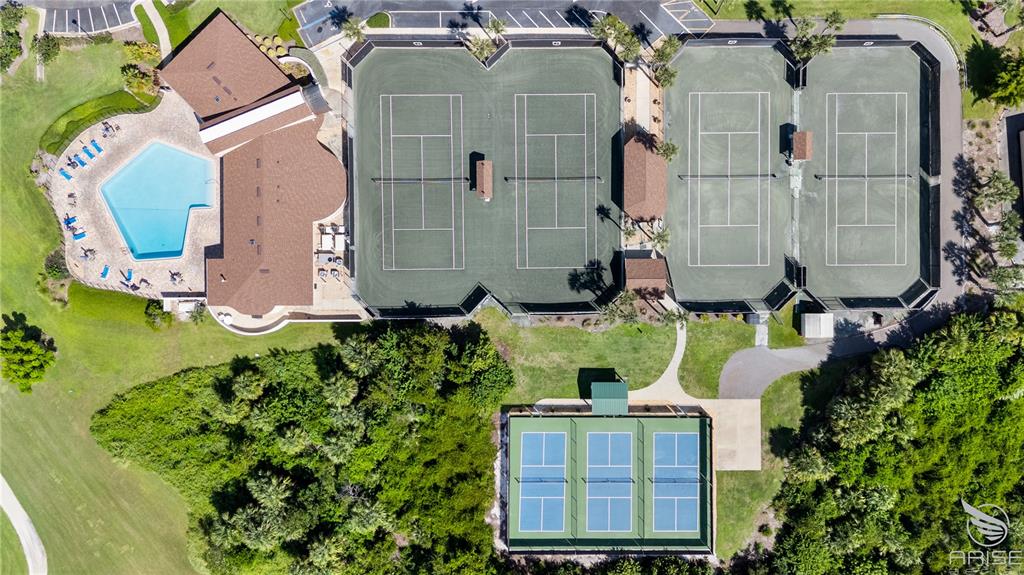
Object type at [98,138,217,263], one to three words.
swimming pool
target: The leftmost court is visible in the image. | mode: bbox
[354,48,490,317]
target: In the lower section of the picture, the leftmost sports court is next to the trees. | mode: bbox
[509,417,576,547]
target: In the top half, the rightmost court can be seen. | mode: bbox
[800,47,927,309]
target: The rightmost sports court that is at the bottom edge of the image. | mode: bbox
[644,417,709,547]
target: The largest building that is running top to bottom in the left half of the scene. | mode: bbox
[160,13,363,336]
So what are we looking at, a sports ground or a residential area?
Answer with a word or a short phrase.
sports ground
